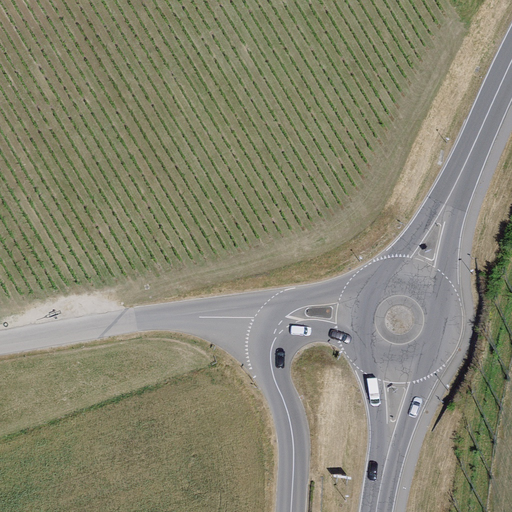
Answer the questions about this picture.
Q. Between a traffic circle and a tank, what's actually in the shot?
traffic circle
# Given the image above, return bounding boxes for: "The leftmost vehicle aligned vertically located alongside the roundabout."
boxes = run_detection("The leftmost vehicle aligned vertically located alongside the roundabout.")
[367,377,382,406]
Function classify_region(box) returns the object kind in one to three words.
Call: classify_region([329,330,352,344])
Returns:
car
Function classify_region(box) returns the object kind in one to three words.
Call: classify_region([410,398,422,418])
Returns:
vehicle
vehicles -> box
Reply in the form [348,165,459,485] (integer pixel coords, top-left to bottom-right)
[275,348,286,368]
[410,398,422,418]
[367,377,382,406]
[368,460,378,480]
[329,330,352,344]
[290,326,312,336]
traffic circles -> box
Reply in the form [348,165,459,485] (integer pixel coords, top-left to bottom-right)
[338,258,462,382]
